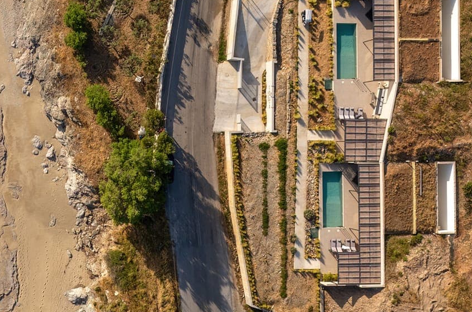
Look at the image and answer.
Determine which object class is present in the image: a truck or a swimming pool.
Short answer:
swimming pool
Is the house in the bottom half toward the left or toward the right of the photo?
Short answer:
right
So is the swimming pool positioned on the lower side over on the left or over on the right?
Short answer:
right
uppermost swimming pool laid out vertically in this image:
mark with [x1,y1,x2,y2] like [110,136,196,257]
[336,22,358,83]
